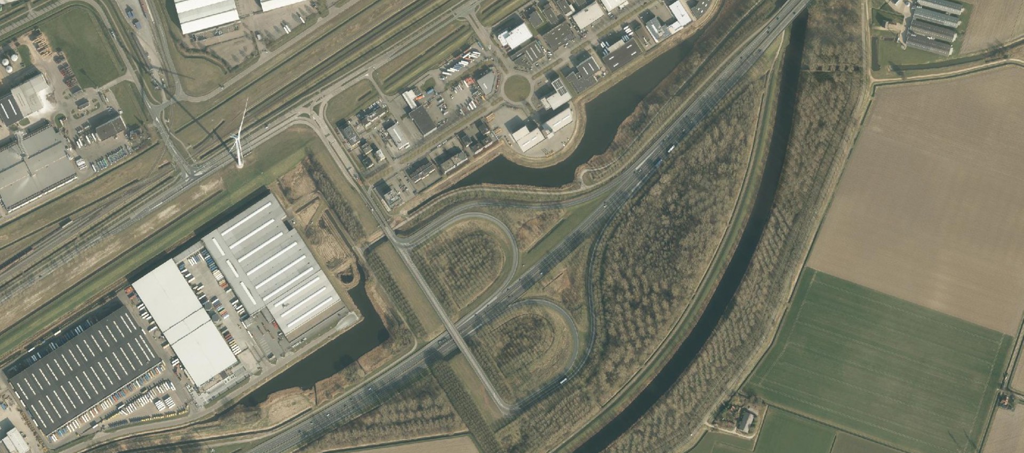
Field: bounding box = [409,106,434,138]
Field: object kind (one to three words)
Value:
building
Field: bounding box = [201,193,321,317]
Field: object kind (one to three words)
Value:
warehouse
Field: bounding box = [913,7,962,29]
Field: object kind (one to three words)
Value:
barn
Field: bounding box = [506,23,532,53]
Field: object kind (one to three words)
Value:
building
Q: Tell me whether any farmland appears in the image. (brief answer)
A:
Yes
